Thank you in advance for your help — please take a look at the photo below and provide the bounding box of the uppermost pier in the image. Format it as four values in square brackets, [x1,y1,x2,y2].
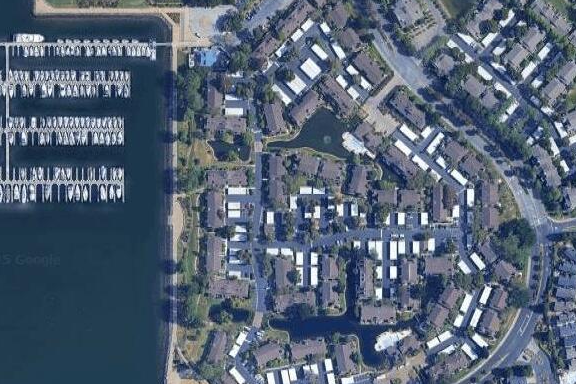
[0,43,169,56]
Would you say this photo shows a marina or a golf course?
marina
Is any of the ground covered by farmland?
No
